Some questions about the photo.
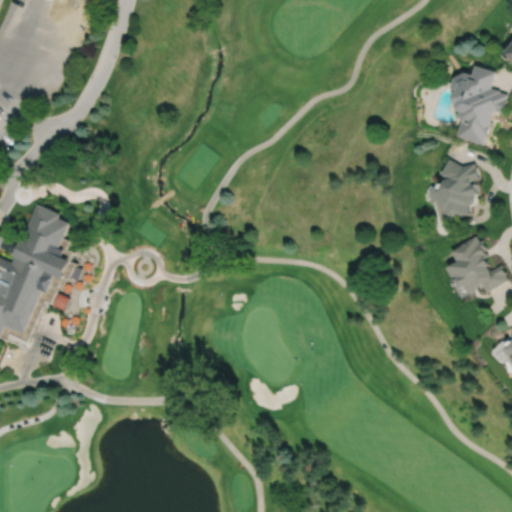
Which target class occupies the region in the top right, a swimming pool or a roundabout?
swimming pool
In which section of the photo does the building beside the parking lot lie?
left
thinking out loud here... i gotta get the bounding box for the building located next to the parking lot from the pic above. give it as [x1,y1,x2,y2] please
[0,200,70,340]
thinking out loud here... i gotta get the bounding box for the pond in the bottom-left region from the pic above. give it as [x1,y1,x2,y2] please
[58,418,218,512]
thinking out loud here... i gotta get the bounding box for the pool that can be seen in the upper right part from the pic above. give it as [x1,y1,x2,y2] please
[422,84,460,127]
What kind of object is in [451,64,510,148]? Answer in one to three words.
house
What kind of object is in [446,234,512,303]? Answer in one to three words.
house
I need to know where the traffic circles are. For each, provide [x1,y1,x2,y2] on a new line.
[125,248,164,286]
